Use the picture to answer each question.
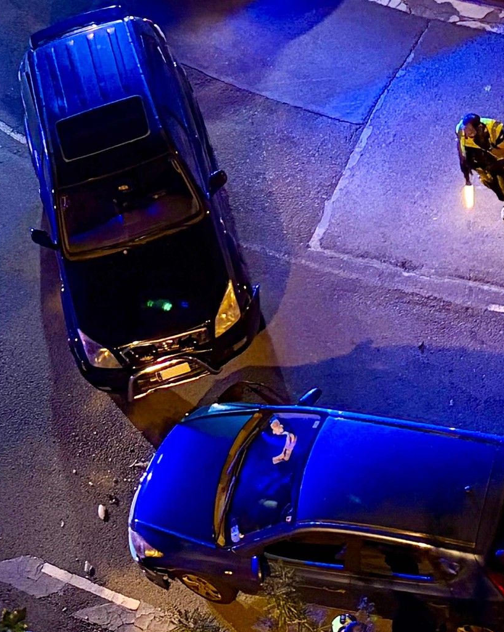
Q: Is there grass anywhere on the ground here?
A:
No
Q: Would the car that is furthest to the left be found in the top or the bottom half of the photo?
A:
top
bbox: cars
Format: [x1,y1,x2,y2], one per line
[23,0,258,408]
[127,396,504,632]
